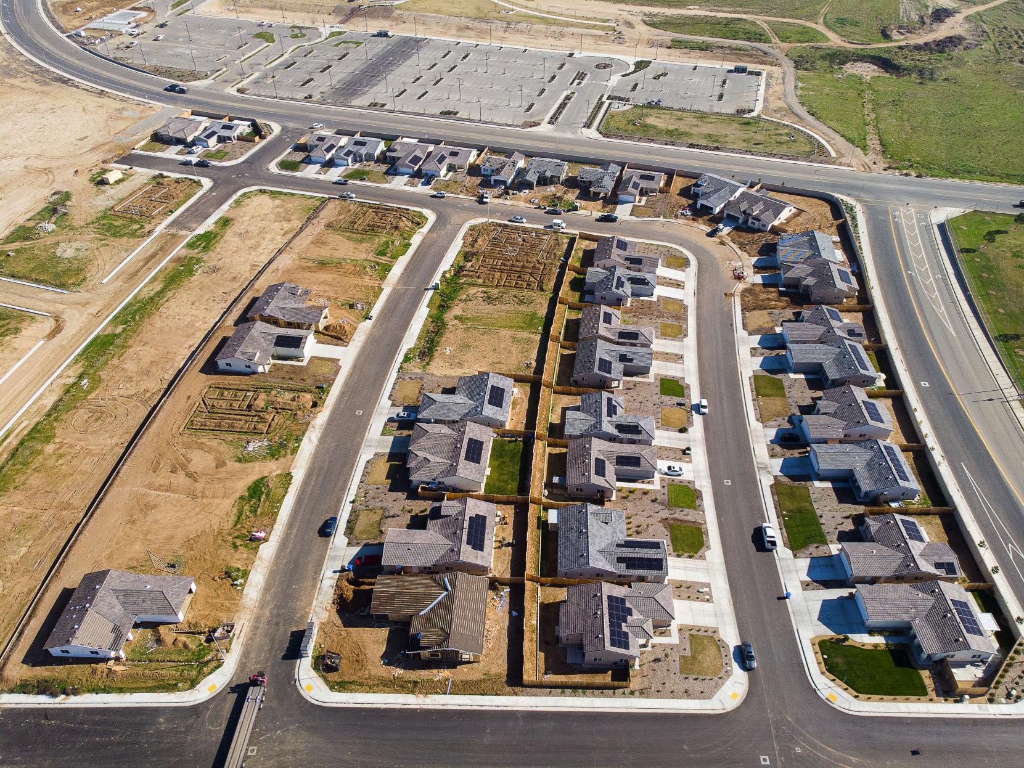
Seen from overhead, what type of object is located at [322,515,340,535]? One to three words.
car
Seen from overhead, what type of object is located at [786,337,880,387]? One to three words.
house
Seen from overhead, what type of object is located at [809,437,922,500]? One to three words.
house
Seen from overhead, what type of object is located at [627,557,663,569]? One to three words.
solar panel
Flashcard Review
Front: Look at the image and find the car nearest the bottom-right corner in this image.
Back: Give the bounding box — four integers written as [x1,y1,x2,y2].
[741,640,758,668]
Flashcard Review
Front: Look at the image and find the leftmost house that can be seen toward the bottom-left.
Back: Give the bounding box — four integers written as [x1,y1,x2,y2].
[43,568,195,658]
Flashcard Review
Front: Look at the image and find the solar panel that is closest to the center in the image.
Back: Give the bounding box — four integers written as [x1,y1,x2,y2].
[488,386,507,407]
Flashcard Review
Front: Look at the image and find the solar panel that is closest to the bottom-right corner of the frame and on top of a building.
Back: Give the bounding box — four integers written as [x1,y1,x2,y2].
[951,599,983,635]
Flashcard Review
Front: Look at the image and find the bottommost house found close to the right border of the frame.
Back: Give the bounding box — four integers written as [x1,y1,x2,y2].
[854,579,1001,662]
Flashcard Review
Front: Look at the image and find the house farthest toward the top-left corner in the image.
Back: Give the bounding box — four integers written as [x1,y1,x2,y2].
[155,118,203,143]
